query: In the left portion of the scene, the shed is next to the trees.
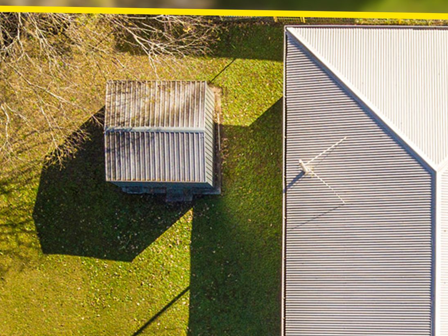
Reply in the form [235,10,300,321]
[103,78,222,203]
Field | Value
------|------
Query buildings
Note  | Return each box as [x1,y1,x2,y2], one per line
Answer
[282,25,448,336]
[103,78,222,203]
